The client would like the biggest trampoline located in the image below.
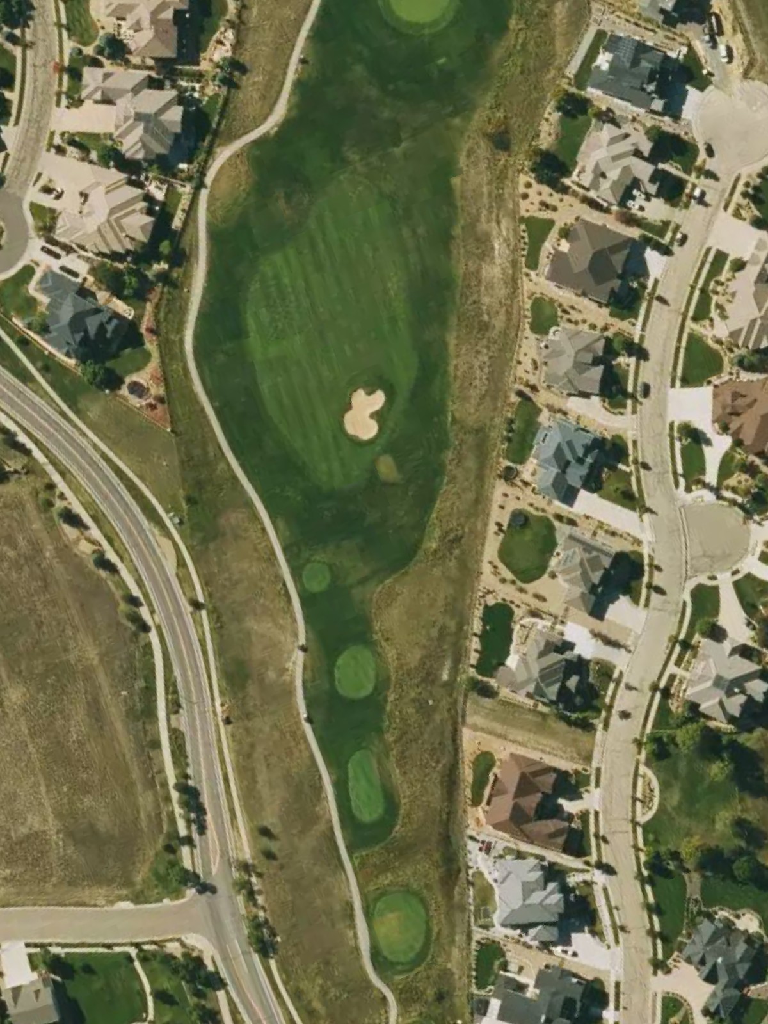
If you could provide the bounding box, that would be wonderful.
[128,381,144,397]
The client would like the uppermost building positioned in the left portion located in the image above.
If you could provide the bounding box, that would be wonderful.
[102,0,191,65]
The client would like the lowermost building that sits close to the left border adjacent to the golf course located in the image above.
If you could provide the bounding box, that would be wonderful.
[37,270,136,364]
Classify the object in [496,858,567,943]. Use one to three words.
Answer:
house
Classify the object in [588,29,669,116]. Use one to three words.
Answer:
house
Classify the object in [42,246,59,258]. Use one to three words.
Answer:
vehicle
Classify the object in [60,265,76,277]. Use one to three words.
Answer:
vehicle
